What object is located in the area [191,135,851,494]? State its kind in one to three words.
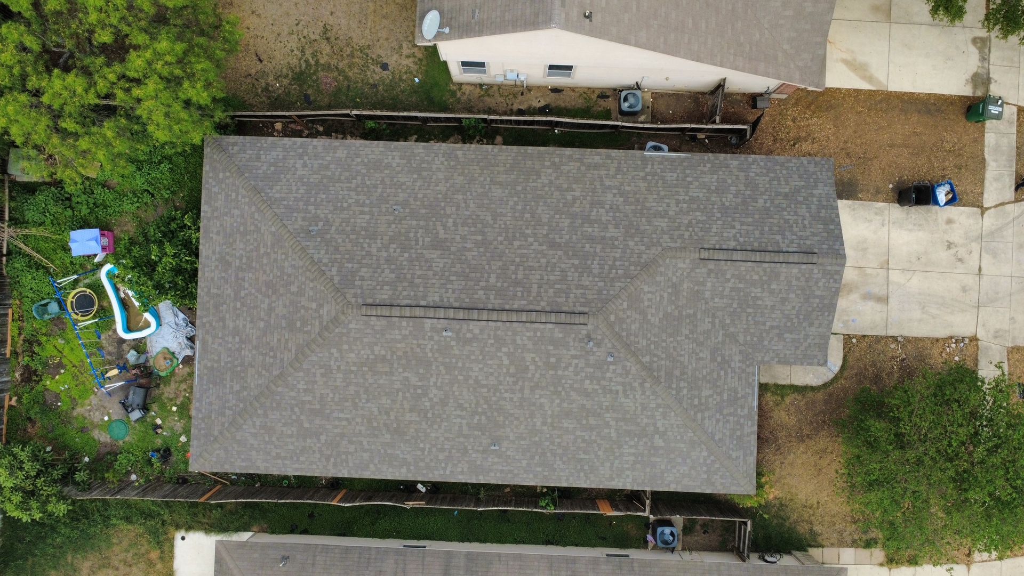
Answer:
house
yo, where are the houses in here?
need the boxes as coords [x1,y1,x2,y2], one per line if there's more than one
[213,533,849,576]
[191,135,851,494]
[416,0,842,100]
